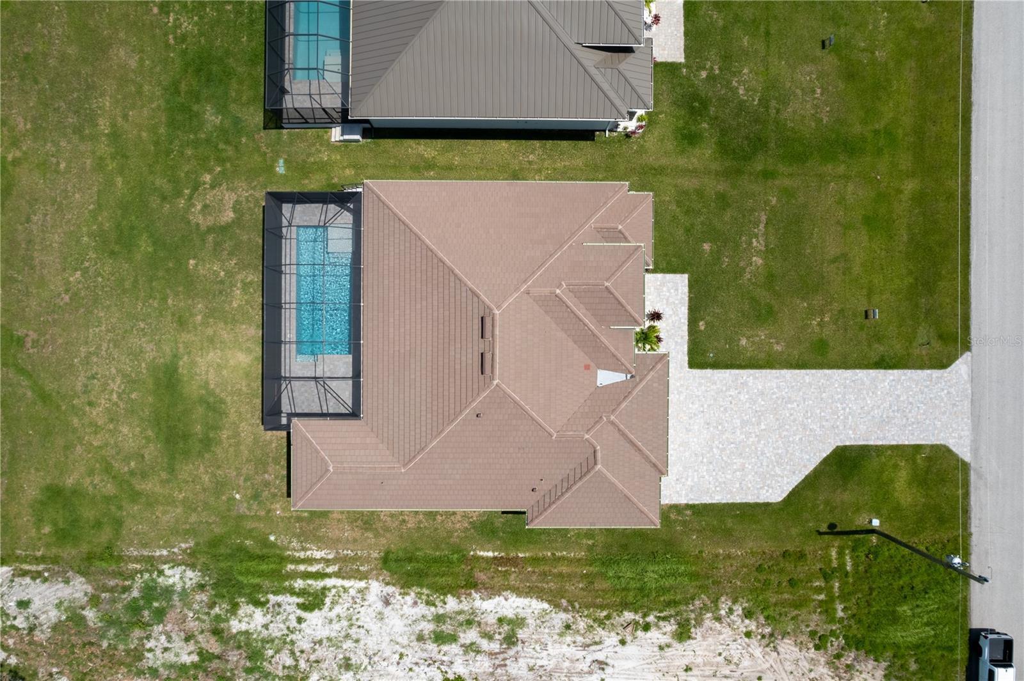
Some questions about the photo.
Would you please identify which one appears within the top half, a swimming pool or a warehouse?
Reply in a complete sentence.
It is a swimming pool that can be seen within the top half.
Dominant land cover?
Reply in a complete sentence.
The bulk of the photo consists of grass.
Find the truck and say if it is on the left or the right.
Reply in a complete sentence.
You can find the truck on the right side of the picture.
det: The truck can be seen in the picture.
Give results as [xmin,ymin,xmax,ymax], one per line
[971,629,1014,681]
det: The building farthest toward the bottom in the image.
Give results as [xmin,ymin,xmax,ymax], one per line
[291,180,668,528]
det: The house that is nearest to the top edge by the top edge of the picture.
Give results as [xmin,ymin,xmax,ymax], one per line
[351,0,655,135]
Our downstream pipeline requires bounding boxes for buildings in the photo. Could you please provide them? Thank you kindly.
[291,180,668,528]
[351,0,655,135]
